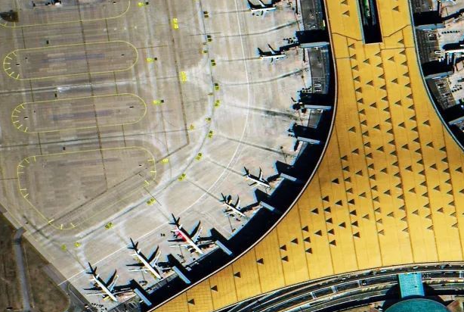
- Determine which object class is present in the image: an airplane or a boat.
airplane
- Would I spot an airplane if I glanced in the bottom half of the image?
Yes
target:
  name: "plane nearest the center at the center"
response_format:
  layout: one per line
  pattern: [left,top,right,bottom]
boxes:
[246,169,271,190]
